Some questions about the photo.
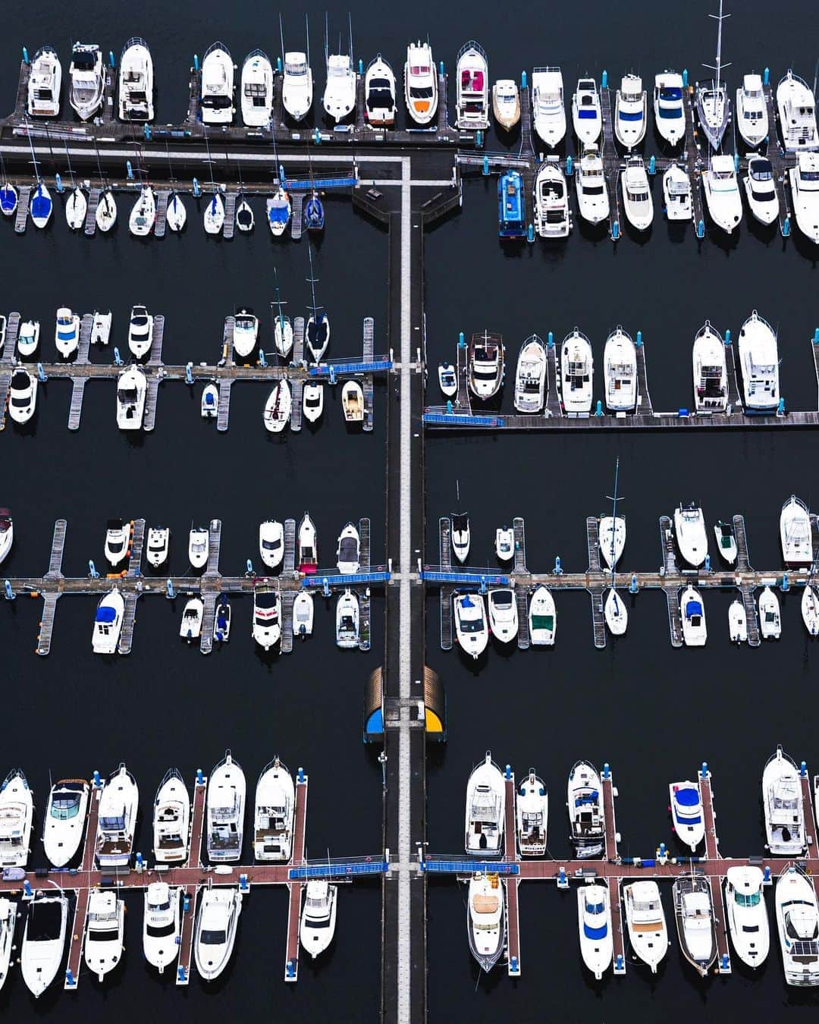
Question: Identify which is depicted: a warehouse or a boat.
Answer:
boat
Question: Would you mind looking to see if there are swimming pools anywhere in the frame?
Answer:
No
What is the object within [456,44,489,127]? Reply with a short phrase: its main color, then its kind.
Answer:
white boat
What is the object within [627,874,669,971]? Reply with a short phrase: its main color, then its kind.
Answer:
white boat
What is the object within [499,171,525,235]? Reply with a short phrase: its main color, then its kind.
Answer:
blue ship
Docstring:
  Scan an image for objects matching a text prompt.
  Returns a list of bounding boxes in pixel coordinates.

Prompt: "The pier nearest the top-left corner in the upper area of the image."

[11,61,30,123]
